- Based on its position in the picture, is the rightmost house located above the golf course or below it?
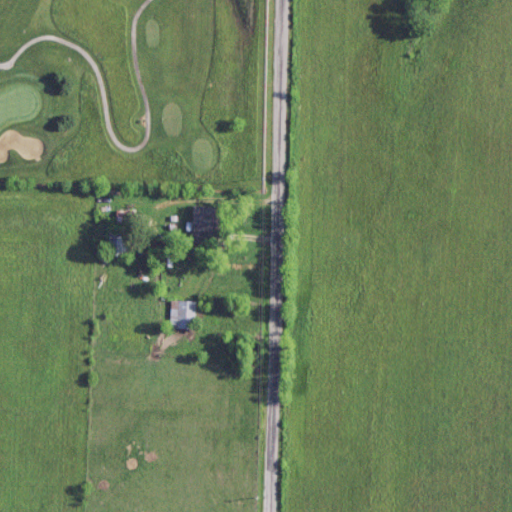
below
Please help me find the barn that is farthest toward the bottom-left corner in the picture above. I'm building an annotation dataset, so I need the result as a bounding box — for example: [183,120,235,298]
[170,301,196,332]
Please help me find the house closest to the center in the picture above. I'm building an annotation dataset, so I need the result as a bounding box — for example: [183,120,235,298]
[194,203,218,237]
